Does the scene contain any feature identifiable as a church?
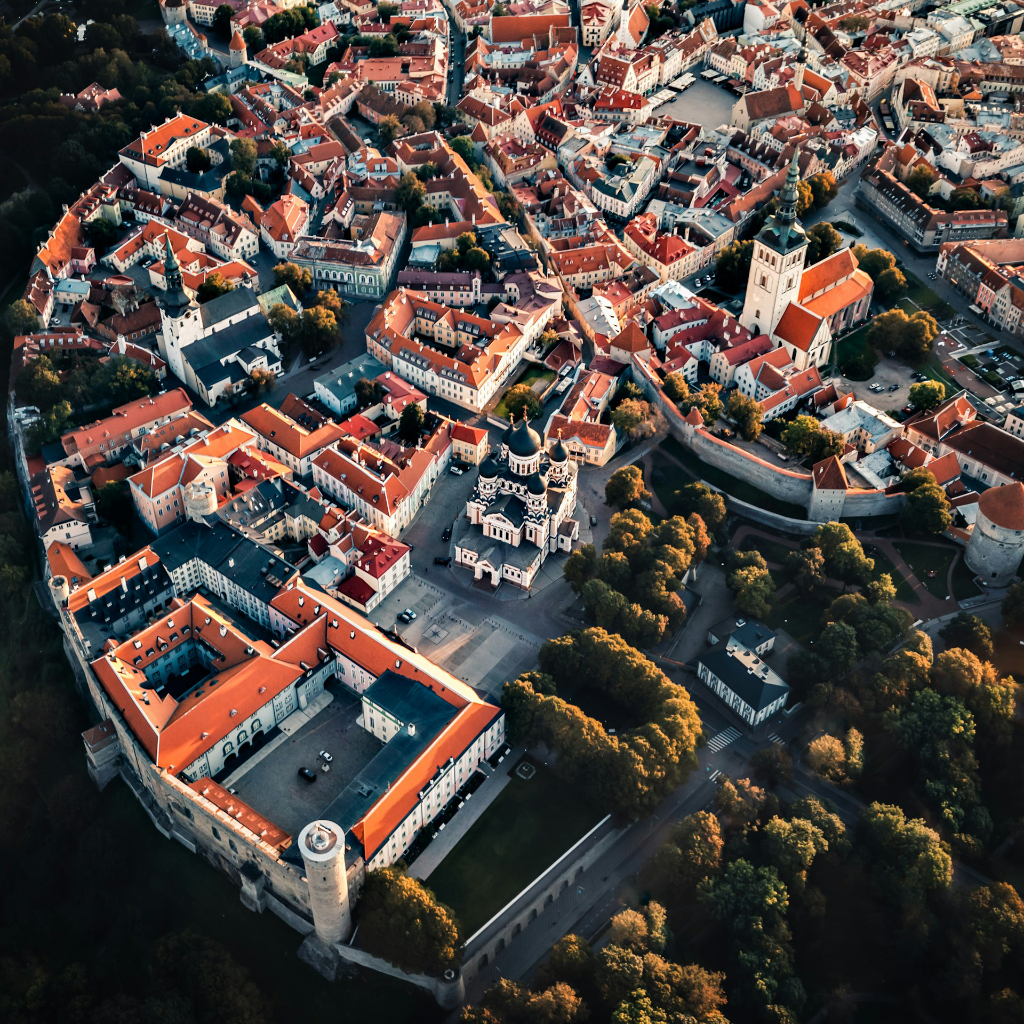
Yes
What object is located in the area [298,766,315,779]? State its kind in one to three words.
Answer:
vehicle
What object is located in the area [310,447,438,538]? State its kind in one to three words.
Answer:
building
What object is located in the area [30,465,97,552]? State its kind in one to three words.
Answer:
house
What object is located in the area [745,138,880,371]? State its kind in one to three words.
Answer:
church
